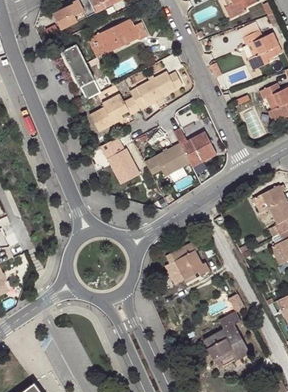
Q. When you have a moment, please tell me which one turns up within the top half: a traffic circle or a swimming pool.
swimming pool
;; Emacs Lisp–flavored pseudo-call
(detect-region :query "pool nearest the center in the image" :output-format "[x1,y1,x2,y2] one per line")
[174,176,195,193]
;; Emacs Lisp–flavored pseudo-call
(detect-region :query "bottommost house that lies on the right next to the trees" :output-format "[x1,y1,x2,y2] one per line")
[204,316,248,366]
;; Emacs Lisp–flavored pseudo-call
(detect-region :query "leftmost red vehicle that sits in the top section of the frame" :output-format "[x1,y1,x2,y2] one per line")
[22,106,38,138]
